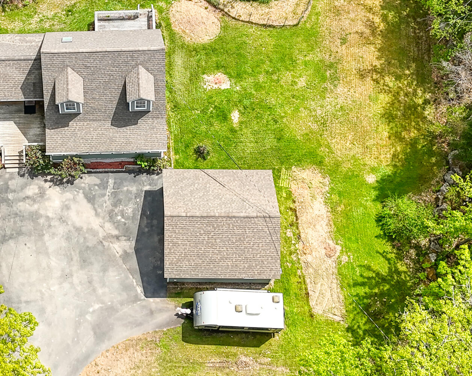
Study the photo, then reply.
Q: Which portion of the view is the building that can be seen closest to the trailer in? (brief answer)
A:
center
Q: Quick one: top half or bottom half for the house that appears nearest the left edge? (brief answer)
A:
top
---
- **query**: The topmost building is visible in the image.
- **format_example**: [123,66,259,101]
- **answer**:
[0,29,168,163]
